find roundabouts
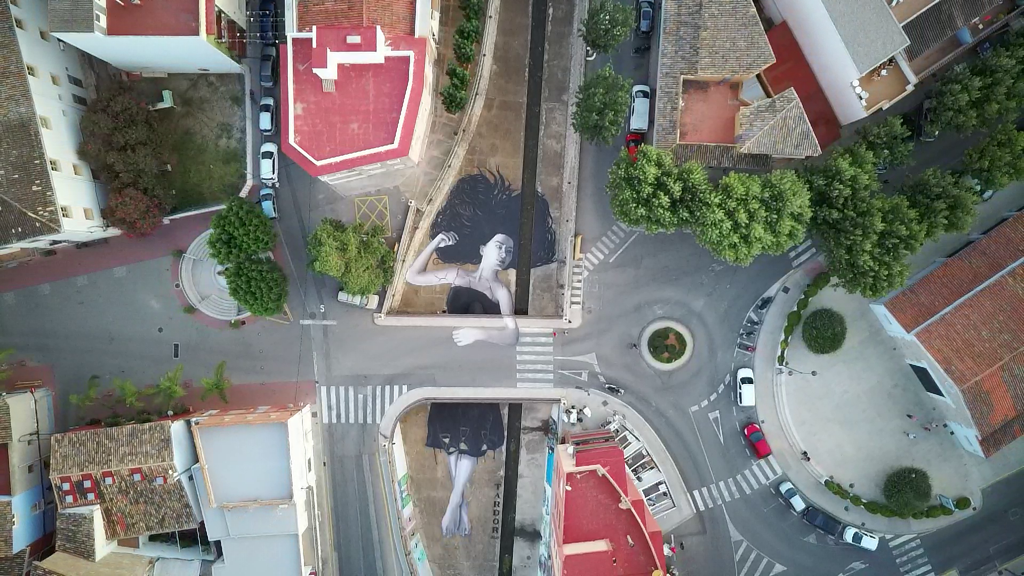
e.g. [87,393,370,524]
[640,317,694,371]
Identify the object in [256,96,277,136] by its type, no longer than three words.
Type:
car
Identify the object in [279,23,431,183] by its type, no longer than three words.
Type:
house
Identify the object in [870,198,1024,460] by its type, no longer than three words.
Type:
church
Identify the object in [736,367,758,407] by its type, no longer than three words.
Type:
car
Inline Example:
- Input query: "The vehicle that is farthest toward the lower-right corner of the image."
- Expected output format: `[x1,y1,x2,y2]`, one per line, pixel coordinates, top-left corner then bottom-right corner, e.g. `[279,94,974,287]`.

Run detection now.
[841,524,882,552]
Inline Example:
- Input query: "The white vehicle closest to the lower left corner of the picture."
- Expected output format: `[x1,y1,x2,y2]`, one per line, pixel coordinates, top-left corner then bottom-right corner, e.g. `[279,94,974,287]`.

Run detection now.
[335,287,379,311]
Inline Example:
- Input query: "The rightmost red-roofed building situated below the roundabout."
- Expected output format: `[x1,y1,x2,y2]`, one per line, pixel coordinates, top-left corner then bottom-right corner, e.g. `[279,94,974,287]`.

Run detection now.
[553,419,666,576]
